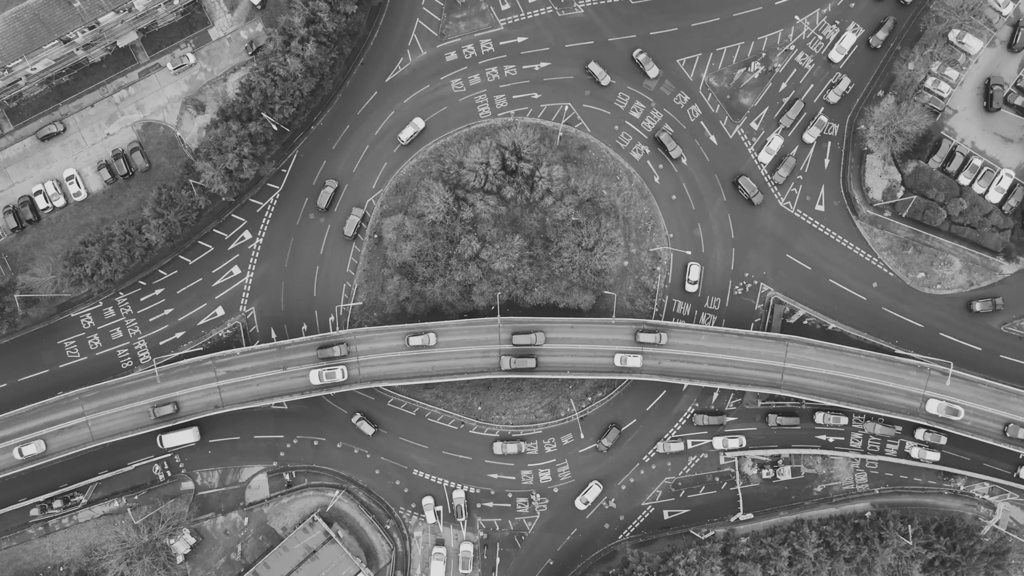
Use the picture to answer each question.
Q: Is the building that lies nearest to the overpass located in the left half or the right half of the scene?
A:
left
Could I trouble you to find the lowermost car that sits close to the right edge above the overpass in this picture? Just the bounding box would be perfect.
[966,295,1005,314]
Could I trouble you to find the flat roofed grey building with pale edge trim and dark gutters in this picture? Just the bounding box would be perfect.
[244,509,380,576]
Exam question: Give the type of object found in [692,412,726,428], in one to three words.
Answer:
car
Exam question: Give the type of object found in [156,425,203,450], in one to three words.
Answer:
vehicle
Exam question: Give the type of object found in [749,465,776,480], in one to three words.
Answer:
work vehicle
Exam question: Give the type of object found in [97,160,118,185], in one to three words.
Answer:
car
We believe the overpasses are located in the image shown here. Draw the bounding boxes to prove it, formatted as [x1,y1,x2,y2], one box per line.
[0,316,1024,477]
